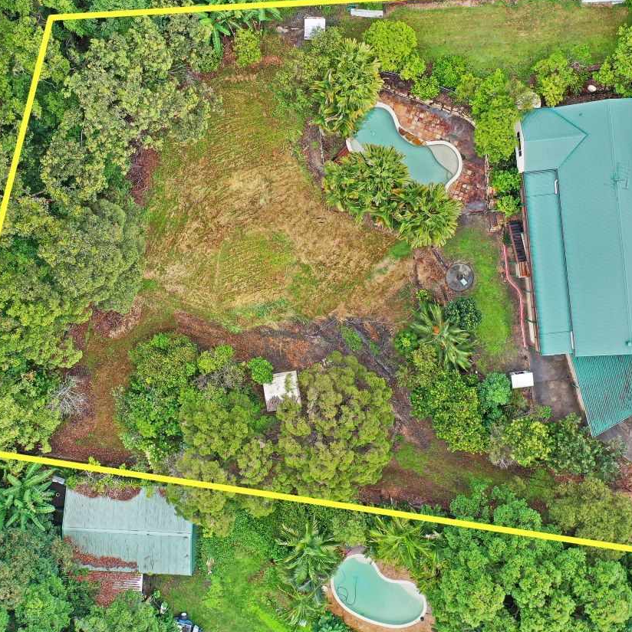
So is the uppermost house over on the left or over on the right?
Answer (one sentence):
The uppermost house appears in the right half of the scene.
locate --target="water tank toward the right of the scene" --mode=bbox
[445,263,474,290]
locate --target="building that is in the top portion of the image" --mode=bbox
[508,97,632,355]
